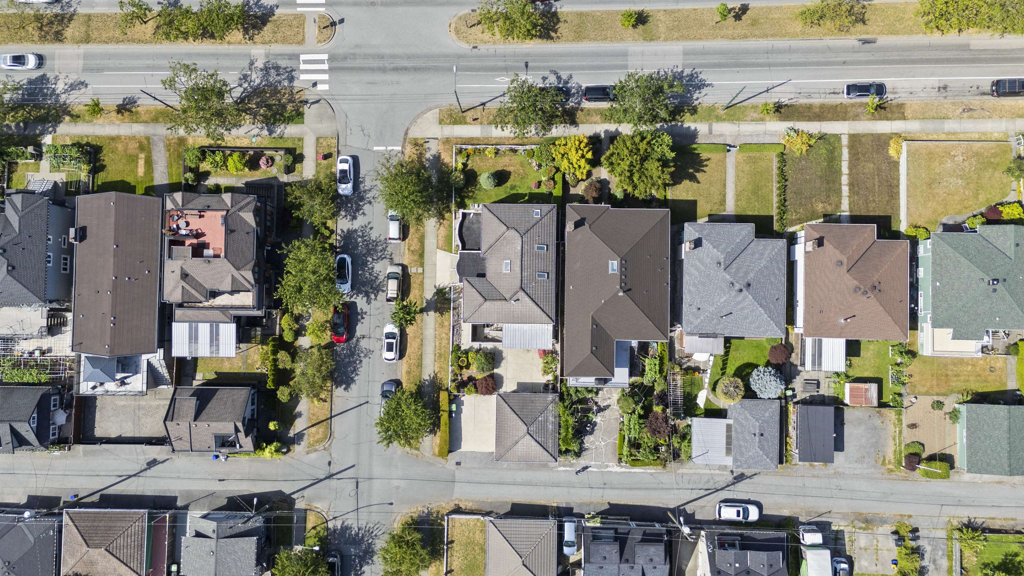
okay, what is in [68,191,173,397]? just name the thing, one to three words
house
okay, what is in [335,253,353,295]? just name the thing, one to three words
car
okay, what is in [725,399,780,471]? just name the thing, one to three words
building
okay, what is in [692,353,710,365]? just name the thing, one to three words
umbrella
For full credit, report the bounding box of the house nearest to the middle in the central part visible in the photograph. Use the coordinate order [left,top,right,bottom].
[456,203,557,349]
